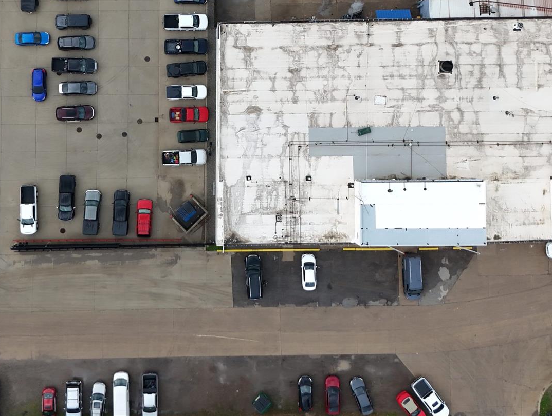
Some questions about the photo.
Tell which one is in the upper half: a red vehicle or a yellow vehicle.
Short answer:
red vehicle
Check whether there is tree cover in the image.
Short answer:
No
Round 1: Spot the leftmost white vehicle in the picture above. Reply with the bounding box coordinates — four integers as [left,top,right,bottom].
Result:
[17,183,39,234]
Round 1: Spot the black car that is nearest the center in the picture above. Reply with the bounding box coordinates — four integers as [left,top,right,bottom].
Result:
[244,253,263,300]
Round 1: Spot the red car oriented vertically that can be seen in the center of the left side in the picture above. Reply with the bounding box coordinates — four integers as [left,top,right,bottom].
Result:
[136,197,154,237]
